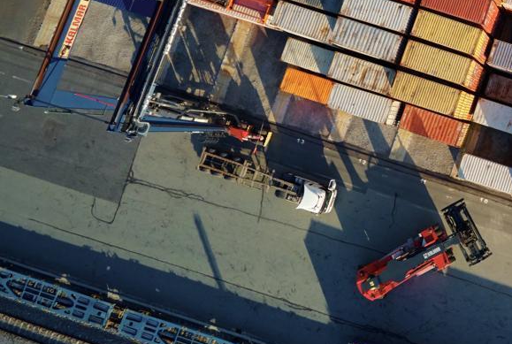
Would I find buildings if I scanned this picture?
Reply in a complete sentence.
No, I find no building anywhere in the image.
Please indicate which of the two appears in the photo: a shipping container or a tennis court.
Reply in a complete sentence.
The image shows a shipping container.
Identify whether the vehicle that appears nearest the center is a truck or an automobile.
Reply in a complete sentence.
It turns out the vehicle that appears nearest the center is a truck.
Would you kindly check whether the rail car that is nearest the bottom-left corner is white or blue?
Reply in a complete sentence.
From above, the rail car that is nearest the bottom-left corner appears blue.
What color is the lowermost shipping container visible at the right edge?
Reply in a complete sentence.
From above, the lowermost shipping container visible at the right edge appears white.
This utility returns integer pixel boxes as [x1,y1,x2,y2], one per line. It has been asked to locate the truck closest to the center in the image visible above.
[194,150,342,217]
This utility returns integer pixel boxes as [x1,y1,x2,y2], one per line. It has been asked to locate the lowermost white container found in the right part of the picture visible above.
[457,153,512,195]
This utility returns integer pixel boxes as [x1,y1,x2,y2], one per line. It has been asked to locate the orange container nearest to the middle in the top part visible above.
[273,65,345,104]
